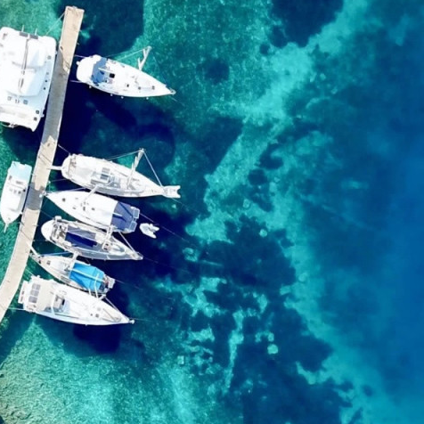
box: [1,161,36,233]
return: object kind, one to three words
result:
boat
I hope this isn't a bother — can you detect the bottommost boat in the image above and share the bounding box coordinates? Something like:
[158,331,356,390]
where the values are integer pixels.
[1,275,141,329]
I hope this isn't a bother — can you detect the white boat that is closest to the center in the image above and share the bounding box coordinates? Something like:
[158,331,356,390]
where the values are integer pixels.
[164,186,180,198]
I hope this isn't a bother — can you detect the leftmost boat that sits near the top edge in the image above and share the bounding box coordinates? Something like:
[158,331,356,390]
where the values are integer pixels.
[0,13,65,138]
